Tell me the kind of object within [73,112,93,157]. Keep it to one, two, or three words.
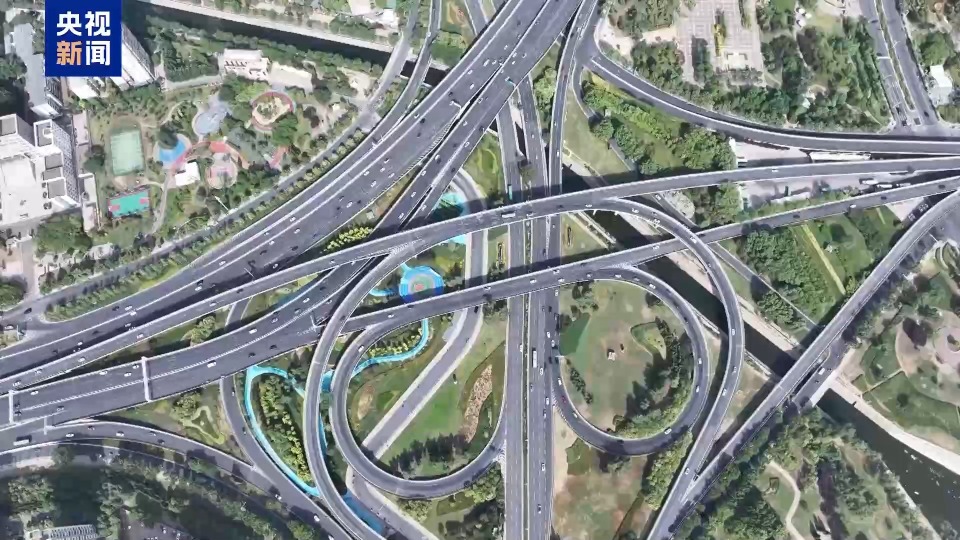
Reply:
building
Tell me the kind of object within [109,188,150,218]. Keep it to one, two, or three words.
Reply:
basketball court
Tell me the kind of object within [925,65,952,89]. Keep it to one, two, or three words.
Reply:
house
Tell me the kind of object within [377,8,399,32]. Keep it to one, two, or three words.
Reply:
building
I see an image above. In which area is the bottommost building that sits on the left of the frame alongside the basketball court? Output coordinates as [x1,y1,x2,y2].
[83,206,102,232]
